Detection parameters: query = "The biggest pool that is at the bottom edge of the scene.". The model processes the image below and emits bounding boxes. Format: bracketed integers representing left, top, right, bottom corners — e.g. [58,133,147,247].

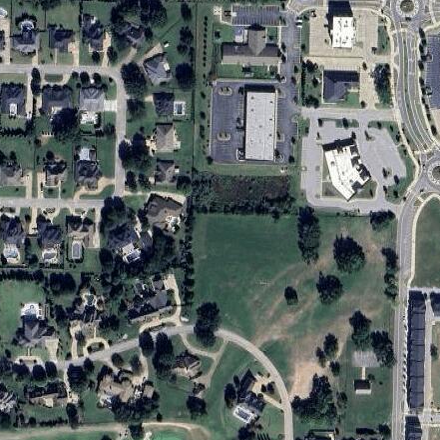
[232,405,254,424]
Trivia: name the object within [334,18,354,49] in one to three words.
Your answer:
building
